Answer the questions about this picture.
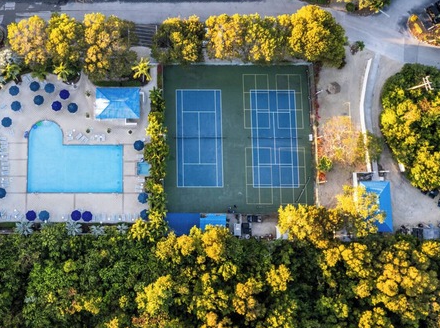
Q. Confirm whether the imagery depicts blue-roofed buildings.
Yes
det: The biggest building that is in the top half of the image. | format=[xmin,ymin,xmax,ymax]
[96,87,144,126]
